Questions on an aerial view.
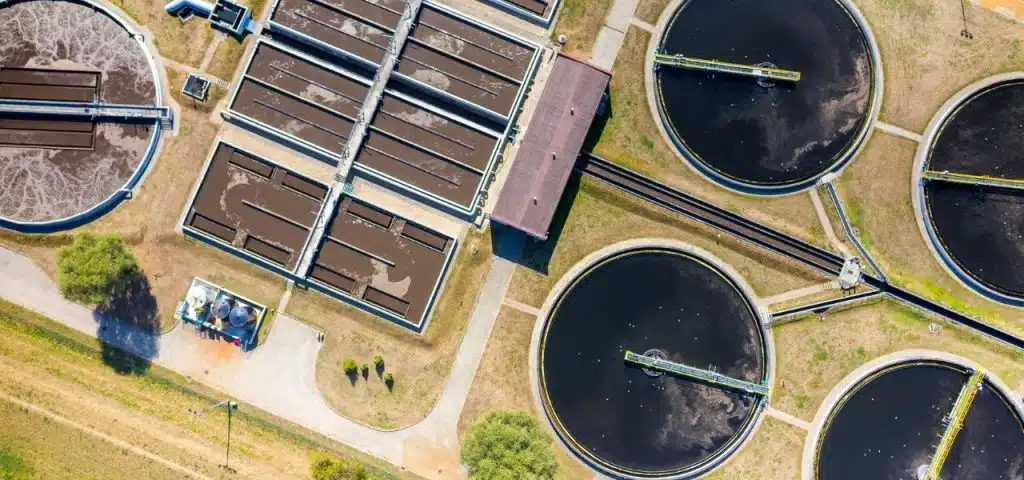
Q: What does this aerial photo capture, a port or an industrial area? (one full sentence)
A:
The picture captures an industrial area.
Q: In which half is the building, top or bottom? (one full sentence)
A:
You can find the building in the top half.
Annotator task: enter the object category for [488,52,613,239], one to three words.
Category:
building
